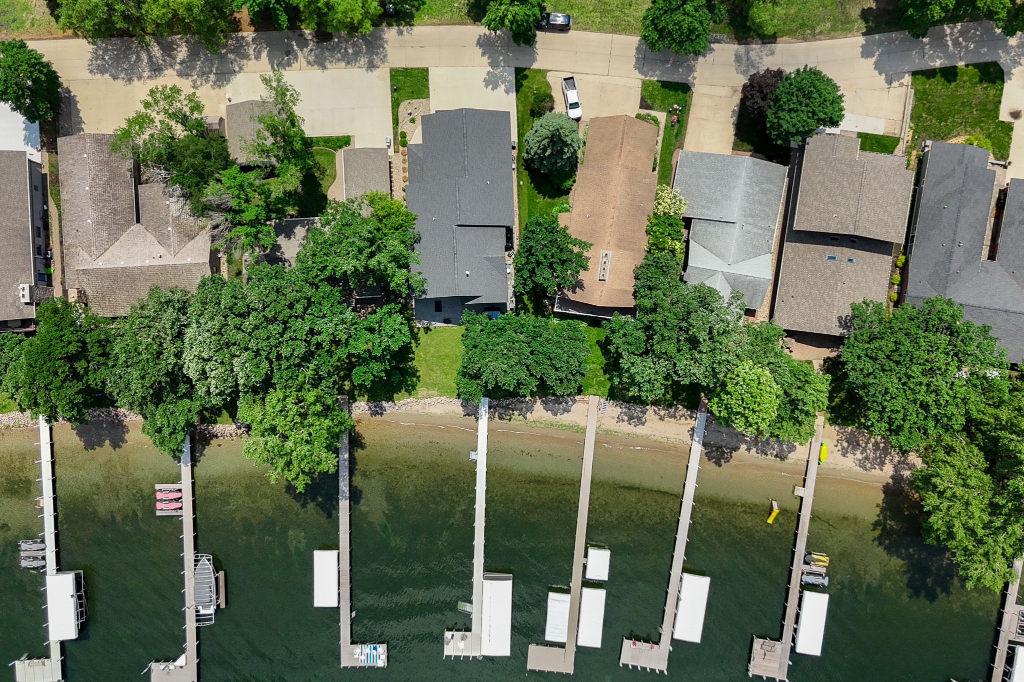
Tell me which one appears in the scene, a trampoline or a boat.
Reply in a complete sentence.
This aerial view contains a boat.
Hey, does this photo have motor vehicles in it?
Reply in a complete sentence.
Yes, you can see a motor vehicle in this photo.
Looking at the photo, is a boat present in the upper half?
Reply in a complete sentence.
No, I see no boat in the upper half.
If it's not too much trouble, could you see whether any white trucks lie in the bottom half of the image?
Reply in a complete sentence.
No, no white truck appears in the bottom half of the image.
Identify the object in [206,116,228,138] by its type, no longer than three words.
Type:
shed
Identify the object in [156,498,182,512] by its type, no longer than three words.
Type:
boat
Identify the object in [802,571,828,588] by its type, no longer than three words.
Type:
boat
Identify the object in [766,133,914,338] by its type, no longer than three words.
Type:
house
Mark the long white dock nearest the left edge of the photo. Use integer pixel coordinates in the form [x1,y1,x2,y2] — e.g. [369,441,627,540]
[11,421,65,682]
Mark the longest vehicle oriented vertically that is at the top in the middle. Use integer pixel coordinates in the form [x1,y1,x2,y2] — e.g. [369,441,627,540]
[560,75,584,122]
